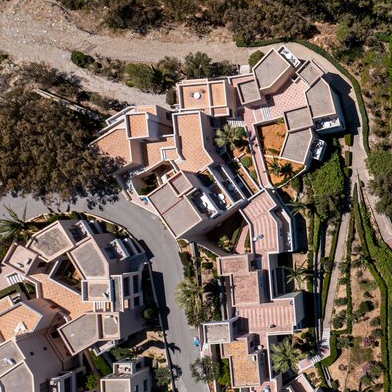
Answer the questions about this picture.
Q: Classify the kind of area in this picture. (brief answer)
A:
residential area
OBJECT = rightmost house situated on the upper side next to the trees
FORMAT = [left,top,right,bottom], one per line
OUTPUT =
[228,45,344,166]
